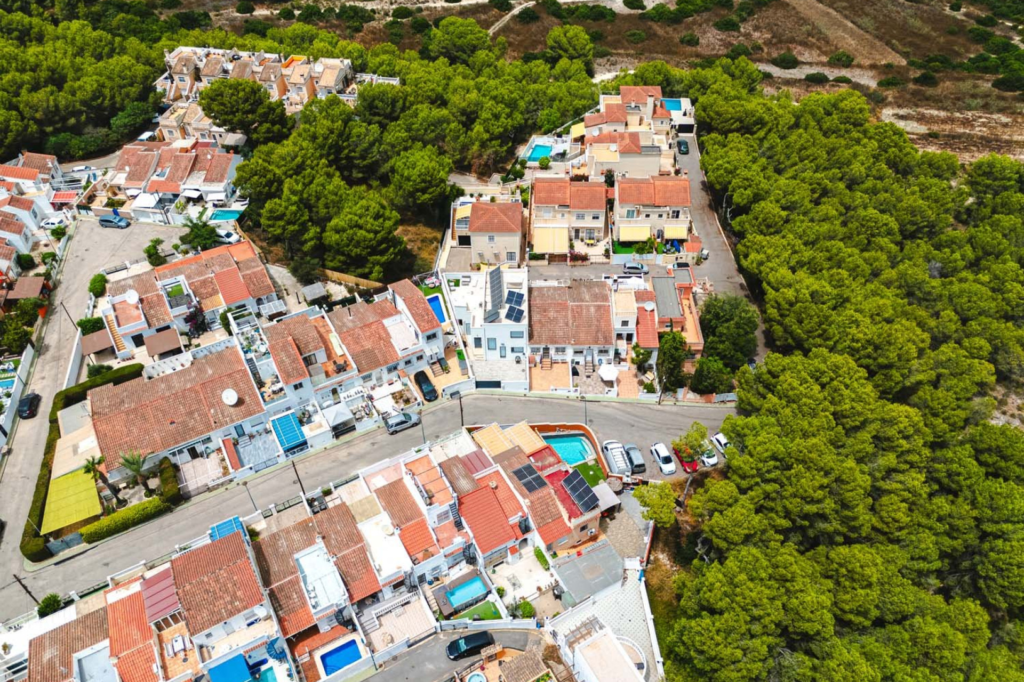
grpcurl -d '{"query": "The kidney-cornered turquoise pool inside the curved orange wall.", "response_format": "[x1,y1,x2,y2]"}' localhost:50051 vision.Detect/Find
[540,434,597,470]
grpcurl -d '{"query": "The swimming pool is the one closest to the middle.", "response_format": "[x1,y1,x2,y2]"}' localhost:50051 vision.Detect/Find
[426,293,450,326]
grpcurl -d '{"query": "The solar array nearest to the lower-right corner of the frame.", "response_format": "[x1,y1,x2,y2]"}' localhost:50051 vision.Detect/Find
[561,469,600,518]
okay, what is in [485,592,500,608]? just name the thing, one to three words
umbrella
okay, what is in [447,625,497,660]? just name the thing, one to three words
car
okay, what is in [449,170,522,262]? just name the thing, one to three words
house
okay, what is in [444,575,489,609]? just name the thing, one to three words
swimming pool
